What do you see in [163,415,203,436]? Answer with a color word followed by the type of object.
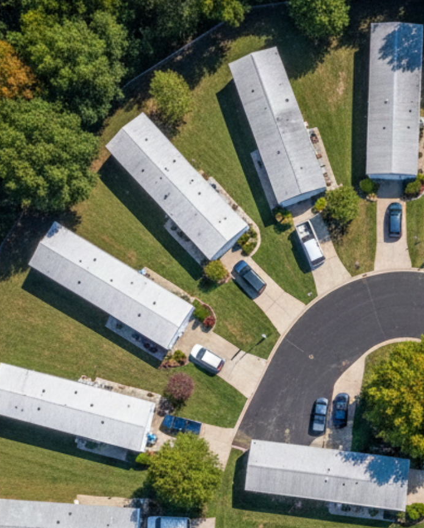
blue vehicle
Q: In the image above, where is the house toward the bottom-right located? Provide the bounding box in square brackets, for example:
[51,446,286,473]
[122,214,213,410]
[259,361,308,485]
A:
[245,439,411,512]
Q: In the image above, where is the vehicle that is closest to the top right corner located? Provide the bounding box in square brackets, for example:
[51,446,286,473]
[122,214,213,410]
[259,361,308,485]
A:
[388,204,403,240]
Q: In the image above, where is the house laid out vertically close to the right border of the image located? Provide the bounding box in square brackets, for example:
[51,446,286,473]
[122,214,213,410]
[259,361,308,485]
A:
[365,21,423,182]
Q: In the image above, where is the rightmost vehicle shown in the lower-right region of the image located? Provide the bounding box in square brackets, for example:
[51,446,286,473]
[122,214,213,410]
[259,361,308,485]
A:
[334,394,349,428]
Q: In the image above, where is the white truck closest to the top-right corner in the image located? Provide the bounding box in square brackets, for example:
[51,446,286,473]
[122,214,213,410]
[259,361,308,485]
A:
[296,221,324,268]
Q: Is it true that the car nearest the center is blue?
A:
Yes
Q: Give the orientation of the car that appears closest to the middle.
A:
on a diagonal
